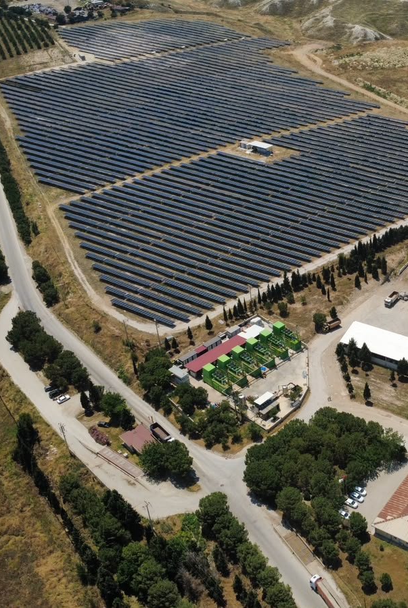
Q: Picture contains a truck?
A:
Yes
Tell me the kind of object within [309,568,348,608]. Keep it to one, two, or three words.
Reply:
truck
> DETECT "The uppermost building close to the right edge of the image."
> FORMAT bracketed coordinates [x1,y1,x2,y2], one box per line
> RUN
[338,320,408,379]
